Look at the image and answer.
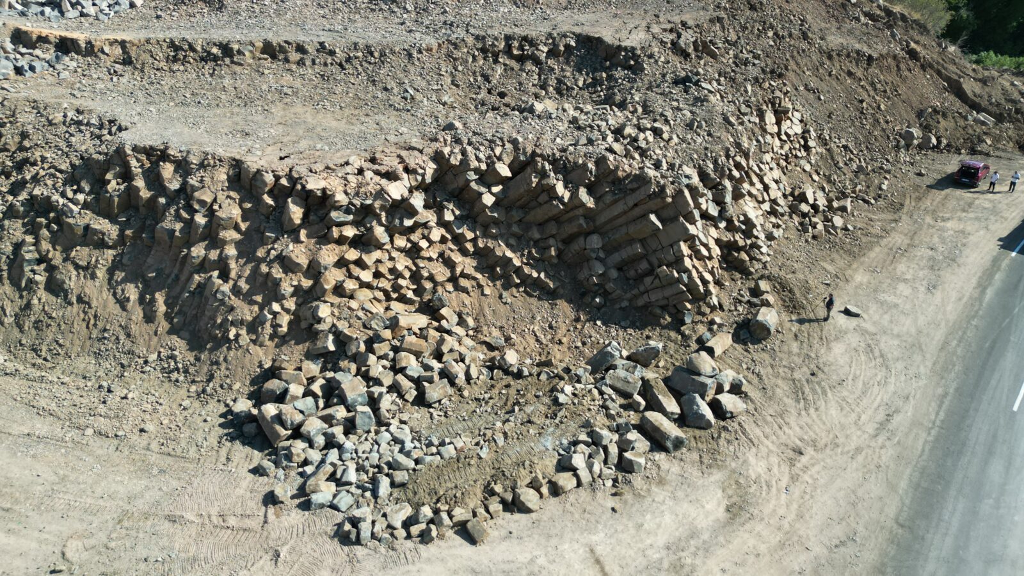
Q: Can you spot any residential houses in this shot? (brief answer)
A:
No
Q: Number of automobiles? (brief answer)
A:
1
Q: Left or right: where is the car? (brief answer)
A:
right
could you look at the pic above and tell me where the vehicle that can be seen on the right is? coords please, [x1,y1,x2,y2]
[955,161,995,187]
